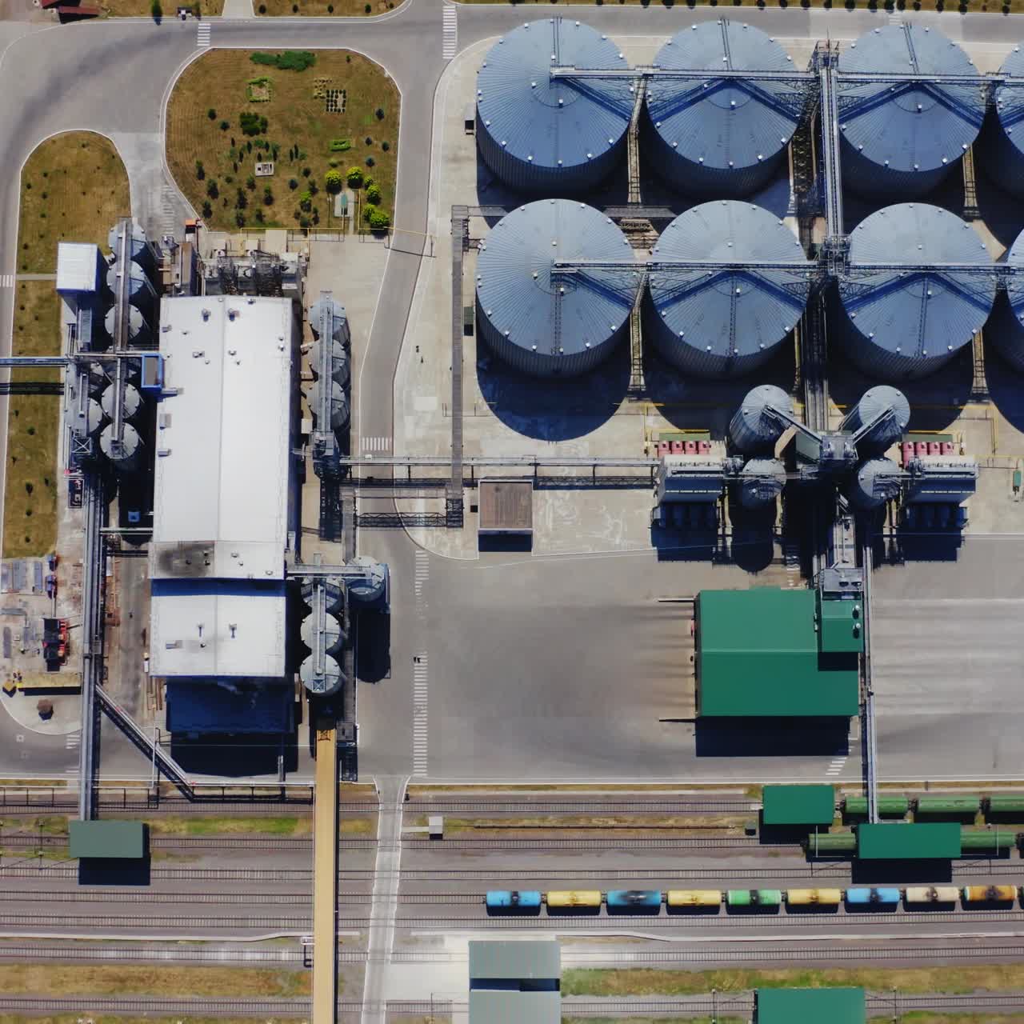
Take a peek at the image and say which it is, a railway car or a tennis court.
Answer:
railway car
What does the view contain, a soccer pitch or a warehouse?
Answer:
warehouse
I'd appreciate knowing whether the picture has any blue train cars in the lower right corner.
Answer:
Yes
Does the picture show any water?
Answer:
No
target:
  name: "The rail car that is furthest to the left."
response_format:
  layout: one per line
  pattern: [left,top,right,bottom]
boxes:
[483,891,544,907]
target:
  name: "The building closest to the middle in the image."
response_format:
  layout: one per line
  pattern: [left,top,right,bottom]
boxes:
[478,480,533,534]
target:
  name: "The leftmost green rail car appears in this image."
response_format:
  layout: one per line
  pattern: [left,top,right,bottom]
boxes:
[722,889,783,905]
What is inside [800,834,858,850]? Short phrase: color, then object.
green rail car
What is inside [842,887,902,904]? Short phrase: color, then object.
blue rail car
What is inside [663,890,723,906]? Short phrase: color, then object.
yellow rail car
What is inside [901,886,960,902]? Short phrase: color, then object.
white rail car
